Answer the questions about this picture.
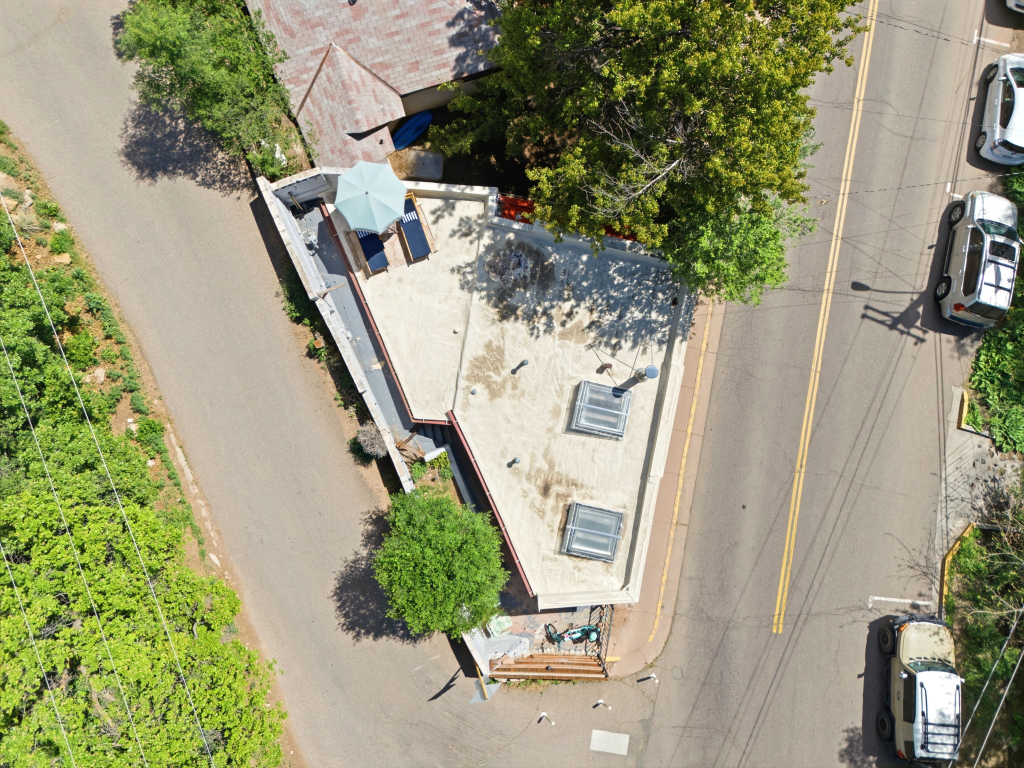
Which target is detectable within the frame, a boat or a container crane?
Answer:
boat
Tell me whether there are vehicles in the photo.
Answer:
Yes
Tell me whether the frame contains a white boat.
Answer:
No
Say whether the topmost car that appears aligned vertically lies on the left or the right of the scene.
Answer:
right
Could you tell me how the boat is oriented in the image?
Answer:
diagonally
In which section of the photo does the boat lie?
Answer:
top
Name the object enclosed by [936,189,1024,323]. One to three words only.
car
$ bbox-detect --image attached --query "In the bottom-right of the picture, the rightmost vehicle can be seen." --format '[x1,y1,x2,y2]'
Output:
[877,608,968,768]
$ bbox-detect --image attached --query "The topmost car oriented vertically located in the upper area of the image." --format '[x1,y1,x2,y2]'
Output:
[975,51,1024,170]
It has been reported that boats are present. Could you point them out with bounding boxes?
[395,110,432,150]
